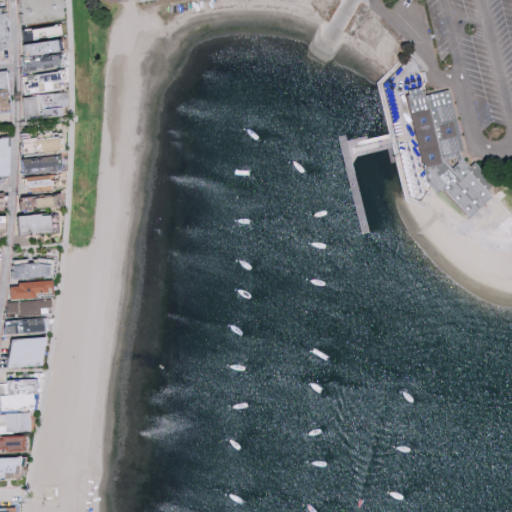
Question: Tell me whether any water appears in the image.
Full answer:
Yes, the picture does contain water.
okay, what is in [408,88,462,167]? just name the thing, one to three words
building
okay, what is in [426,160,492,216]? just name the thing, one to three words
building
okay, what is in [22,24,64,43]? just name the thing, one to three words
house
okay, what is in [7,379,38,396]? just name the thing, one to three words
house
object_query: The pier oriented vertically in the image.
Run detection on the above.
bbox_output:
[340,136,370,234]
